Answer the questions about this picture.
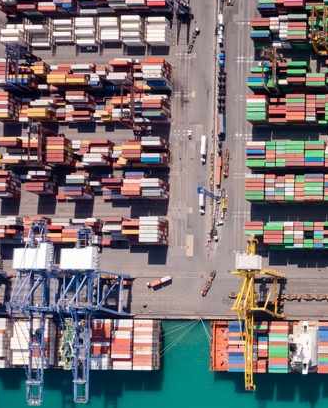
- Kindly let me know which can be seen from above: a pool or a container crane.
container crane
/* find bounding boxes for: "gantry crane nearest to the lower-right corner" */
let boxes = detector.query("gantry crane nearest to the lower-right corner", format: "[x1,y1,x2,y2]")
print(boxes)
[229,235,287,391]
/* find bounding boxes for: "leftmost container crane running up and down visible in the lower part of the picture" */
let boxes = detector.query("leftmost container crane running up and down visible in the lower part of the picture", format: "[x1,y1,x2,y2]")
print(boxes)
[0,222,83,404]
